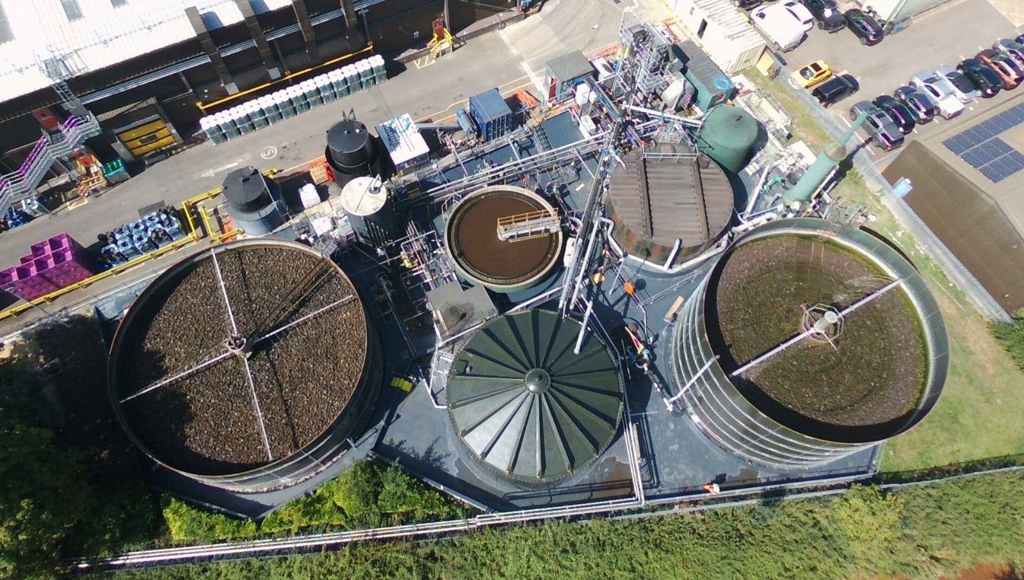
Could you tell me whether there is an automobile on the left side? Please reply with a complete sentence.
No, there's no automobile to be seen on the left side.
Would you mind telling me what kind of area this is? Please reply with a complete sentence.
It's an industrial area.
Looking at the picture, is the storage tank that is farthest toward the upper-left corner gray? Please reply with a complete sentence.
Yes, the storage tank that is farthest toward the upper-left corner is gray.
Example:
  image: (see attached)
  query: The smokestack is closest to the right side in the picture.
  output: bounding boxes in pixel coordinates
[783,104,869,210]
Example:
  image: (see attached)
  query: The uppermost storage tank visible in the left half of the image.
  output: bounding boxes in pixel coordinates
[323,113,386,187]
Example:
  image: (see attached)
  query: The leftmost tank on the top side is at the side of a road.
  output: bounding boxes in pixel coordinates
[222,168,286,232]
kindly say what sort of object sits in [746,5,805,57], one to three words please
van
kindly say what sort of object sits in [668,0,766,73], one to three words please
building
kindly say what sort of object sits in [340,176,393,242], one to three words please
storage tank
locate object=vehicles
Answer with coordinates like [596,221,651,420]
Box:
[808,73,860,109]
[870,95,919,138]
[980,50,1024,90]
[893,87,939,127]
[803,0,852,37]
[731,0,765,16]
[910,72,966,121]
[781,3,822,44]
[935,69,983,110]
[746,5,805,57]
[957,58,1007,100]
[857,106,906,153]
[844,10,888,50]
[789,58,835,92]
